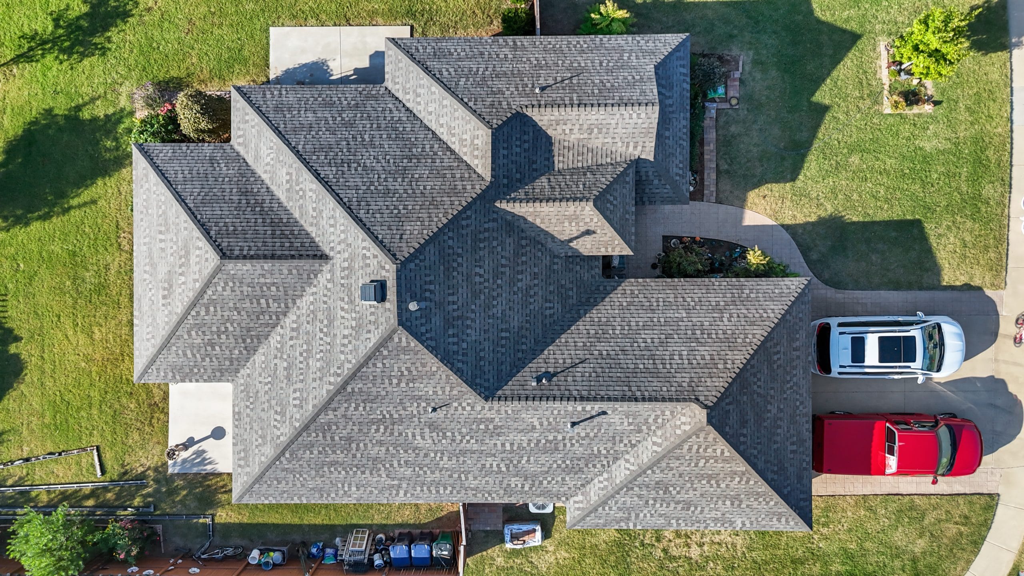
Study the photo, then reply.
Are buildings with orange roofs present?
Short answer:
No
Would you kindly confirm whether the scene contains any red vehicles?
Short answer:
Yes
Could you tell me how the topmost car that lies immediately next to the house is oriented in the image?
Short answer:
horizontally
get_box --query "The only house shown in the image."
[131,35,813,532]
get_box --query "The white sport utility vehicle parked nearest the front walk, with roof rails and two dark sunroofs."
[812,309,966,385]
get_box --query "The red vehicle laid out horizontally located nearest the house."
[812,407,982,488]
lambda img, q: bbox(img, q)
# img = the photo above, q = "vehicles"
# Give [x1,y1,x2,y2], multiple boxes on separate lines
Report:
[812,407,982,488]
[812,309,966,385]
